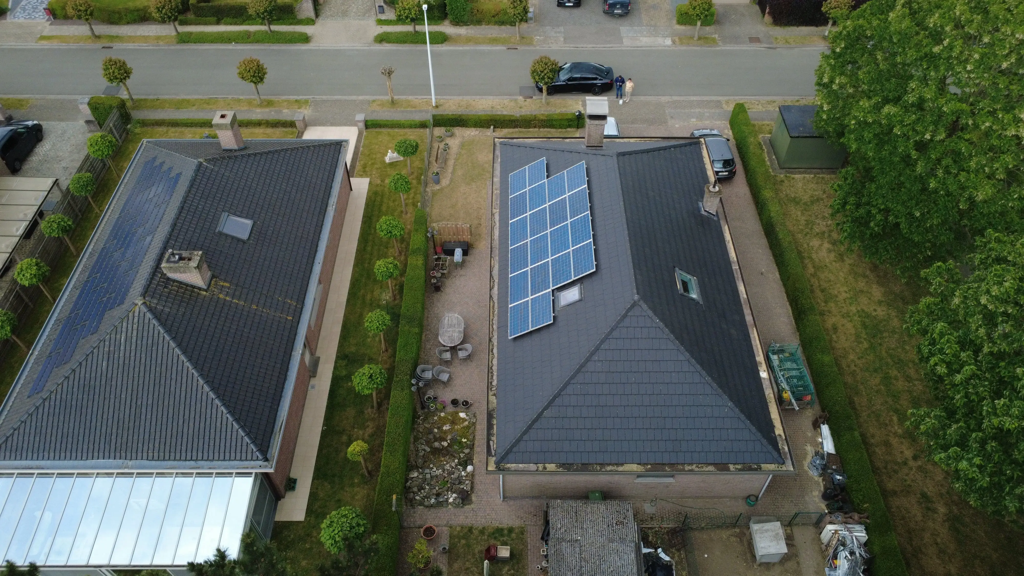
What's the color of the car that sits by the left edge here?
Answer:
black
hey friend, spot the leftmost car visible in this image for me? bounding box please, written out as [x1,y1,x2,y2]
[0,124,42,173]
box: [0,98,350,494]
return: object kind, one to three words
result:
house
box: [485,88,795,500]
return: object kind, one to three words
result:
house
